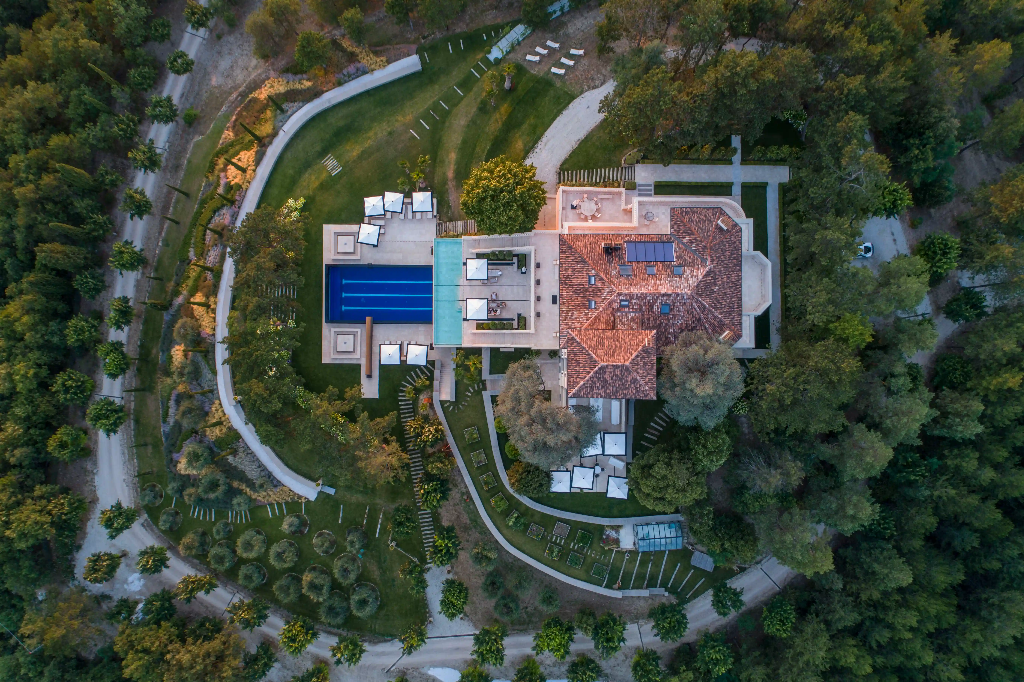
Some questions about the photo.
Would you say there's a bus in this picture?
No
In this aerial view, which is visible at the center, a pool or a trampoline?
pool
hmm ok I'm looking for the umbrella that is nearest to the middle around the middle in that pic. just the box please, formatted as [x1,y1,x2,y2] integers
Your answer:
[466,298,489,321]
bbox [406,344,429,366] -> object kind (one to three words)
umbrella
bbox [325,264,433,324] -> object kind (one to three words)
swimming pool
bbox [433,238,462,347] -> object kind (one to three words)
swimming pool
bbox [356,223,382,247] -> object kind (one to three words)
umbrella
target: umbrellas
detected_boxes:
[549,470,571,493]
[466,298,489,321]
[383,192,405,214]
[606,475,630,500]
[356,223,382,247]
[364,196,386,218]
[582,431,603,458]
[379,344,401,365]
[602,432,627,456]
[571,465,595,490]
[406,344,429,366]
[411,192,434,213]
[466,258,489,281]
